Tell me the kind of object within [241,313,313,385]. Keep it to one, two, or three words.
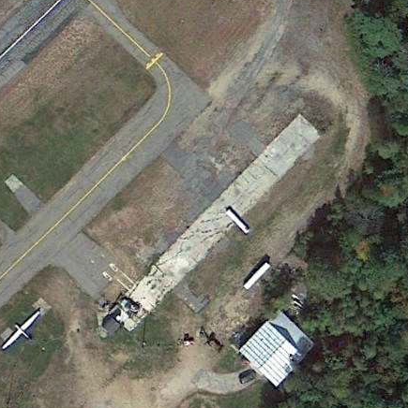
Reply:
building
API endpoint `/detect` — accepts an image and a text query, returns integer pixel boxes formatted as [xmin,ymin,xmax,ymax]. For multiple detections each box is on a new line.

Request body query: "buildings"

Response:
[241,313,313,385]
[102,312,124,332]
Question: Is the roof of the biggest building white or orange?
white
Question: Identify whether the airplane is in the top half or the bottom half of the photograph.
bottom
